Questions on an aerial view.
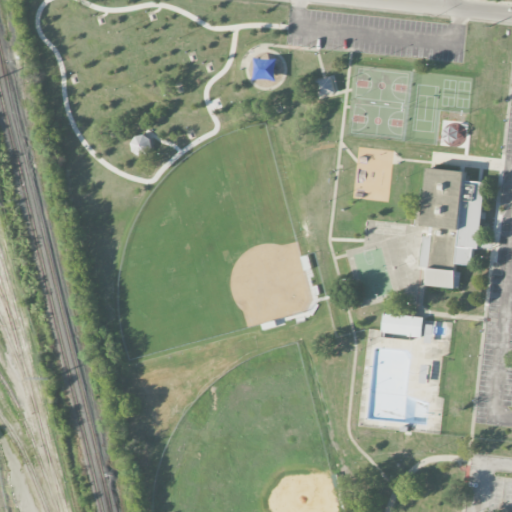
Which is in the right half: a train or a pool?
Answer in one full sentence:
It is a pool that can be seen in the right half.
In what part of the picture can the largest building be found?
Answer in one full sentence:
The largest building is located in the right region of the scene.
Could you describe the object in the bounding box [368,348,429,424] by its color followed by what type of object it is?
white swimming pool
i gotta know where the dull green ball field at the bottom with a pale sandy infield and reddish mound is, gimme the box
[153,343,342,512]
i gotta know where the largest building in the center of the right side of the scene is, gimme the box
[416,168,482,289]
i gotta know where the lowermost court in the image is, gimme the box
[356,250,391,295]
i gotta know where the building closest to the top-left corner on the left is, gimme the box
[130,134,151,155]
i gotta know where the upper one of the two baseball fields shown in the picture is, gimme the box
[119,125,318,358]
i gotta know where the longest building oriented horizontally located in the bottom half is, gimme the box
[381,314,424,338]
